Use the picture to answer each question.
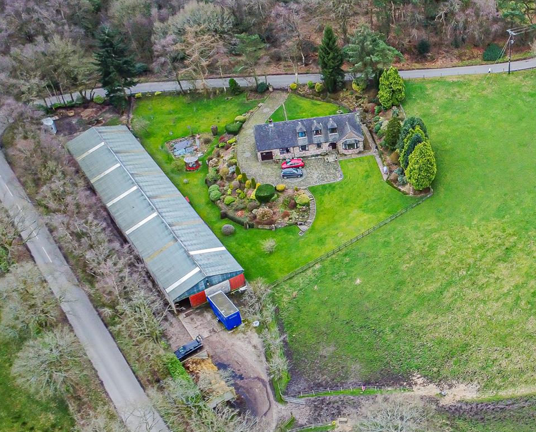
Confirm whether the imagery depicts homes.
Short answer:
Yes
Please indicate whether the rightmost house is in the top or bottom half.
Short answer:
top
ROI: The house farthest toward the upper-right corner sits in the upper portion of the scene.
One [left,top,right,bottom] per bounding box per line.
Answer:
[252,107,365,161]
